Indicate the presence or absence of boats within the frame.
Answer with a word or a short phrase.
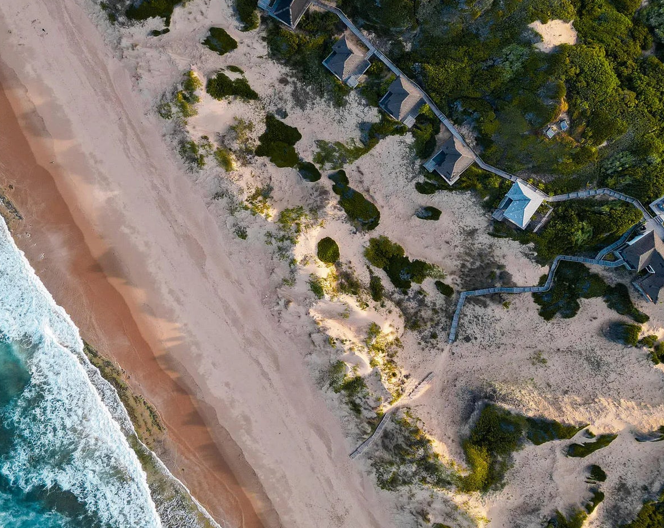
No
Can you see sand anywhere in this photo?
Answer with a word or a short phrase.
Yes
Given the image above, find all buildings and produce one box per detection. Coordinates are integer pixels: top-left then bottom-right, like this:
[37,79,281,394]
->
[322,35,372,92]
[607,228,664,307]
[257,0,313,31]
[421,134,475,187]
[490,180,554,233]
[377,77,427,130]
